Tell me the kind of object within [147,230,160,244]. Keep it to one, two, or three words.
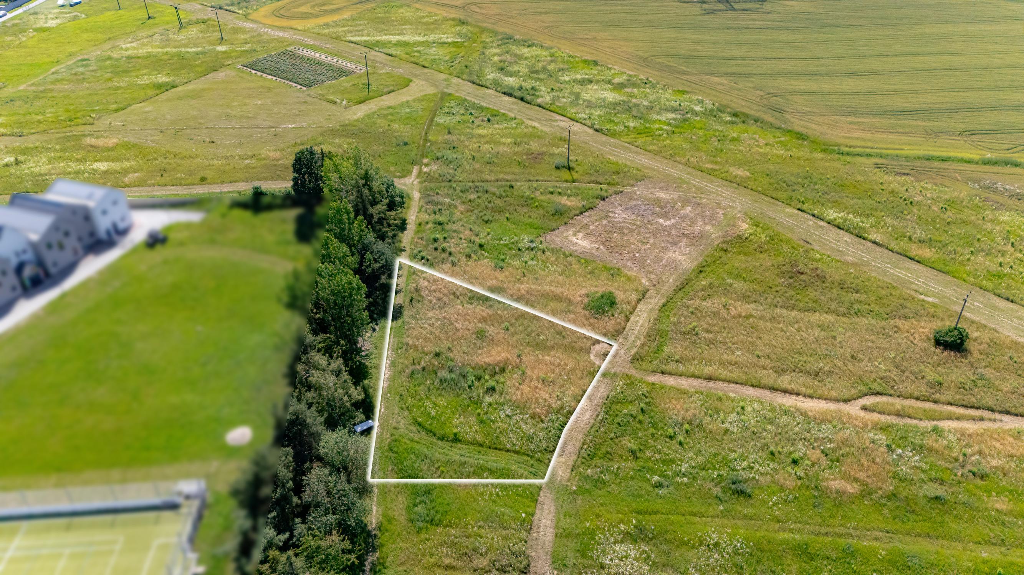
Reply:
vehicle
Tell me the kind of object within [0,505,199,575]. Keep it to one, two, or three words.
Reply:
sports court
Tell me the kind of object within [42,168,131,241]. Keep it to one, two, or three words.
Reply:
house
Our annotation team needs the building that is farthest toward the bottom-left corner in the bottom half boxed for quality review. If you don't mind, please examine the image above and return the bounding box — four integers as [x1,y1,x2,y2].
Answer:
[174,477,207,498]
